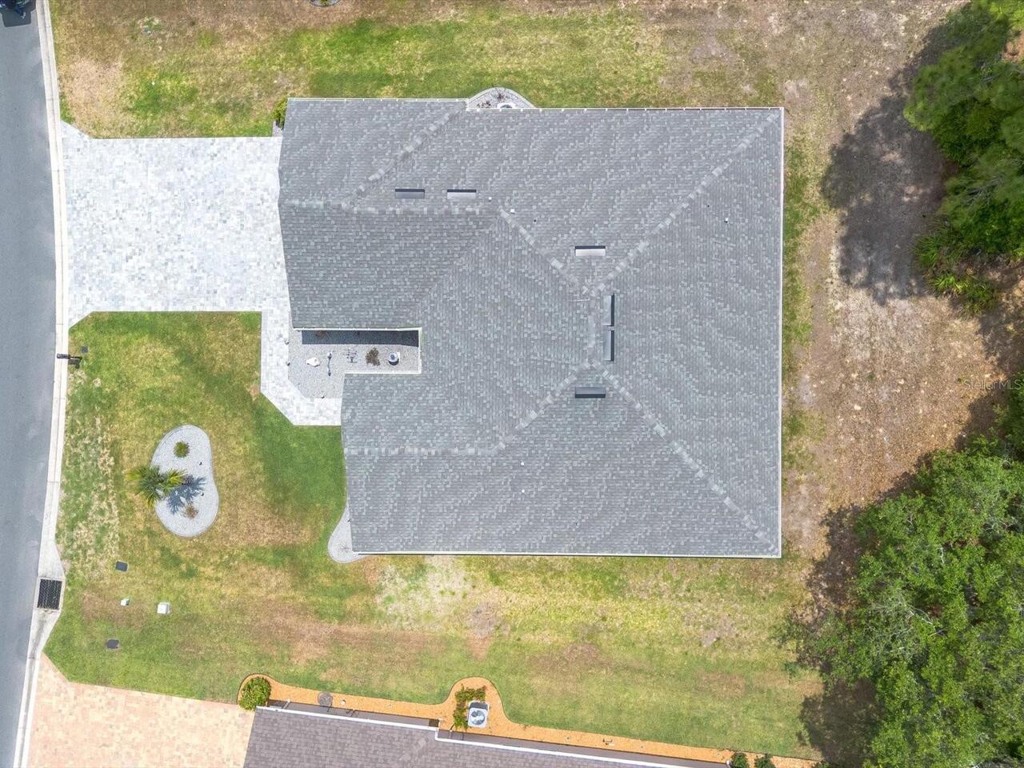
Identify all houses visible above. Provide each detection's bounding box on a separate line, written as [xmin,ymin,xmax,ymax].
[273,95,786,560]
[242,697,731,768]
